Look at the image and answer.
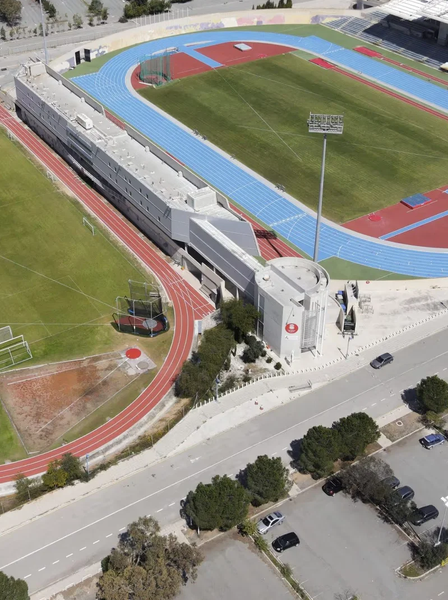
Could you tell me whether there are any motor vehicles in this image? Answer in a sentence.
Yes, there's a motor vehicle down there.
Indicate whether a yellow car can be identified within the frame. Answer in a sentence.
No, the picture doesn't show any yellow car.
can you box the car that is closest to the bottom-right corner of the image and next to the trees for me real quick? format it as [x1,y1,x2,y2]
[416,499,442,519]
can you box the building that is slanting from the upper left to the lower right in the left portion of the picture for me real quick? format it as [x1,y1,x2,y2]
[17,67,267,311]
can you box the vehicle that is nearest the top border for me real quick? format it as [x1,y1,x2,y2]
[371,350,395,368]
